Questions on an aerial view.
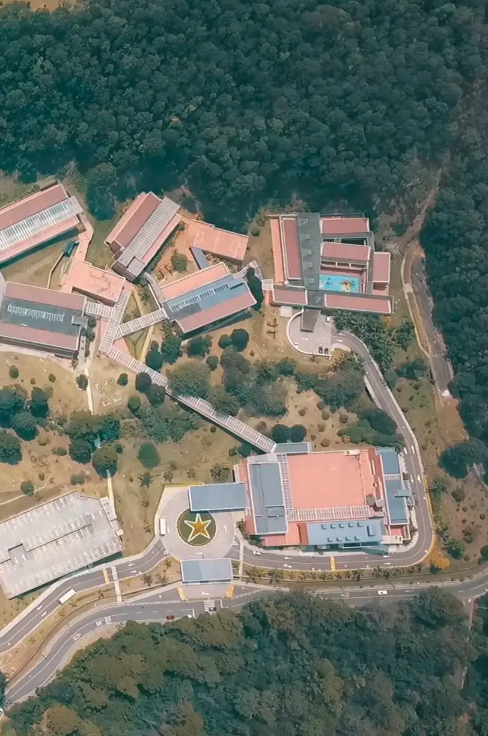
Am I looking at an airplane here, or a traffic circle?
traffic circle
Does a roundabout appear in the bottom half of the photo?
Yes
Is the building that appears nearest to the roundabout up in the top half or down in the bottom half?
bottom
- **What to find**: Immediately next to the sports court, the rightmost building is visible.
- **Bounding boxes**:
[265,209,393,318]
